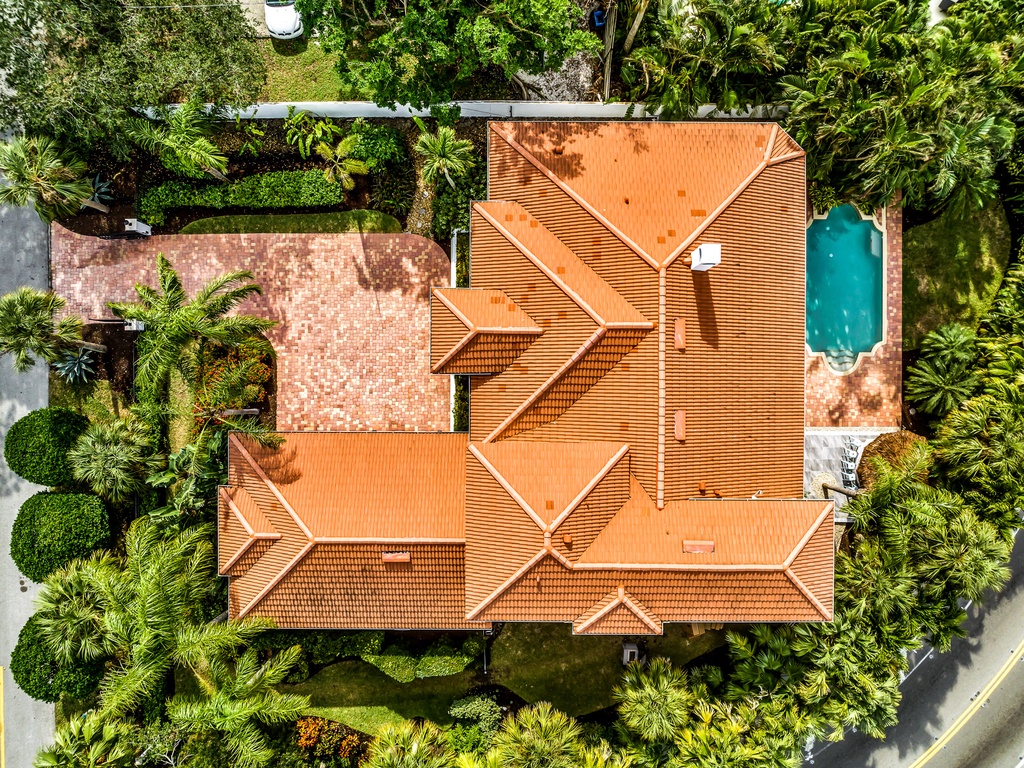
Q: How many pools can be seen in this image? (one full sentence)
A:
The photo contains exactly 1 pool.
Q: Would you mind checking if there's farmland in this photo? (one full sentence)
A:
No, the picture contains no farmland.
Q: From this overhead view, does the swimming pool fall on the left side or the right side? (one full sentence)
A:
You can find the swimming pool on the right side of the picture.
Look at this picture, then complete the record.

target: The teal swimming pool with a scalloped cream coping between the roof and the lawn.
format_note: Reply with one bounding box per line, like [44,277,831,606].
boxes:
[808,196,889,375]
